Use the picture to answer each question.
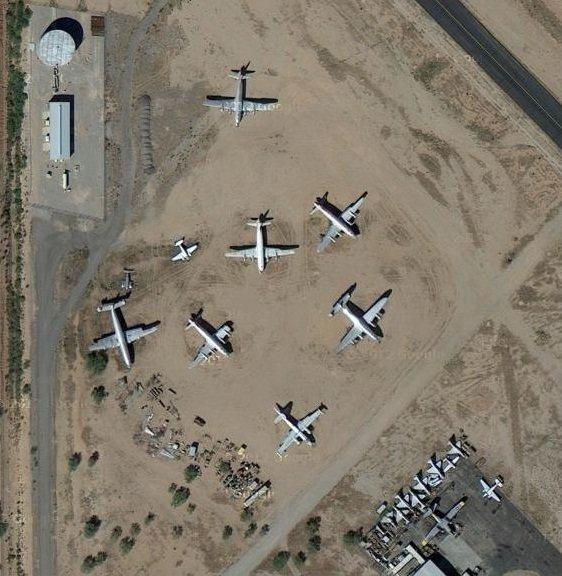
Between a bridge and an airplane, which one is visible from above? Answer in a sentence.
The one in the frame is an airplane.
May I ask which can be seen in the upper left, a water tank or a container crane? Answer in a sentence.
It is a water tank that can be seen in the upper left.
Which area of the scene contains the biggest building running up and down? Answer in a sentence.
The biggest building running up and down is in the top left part of the image.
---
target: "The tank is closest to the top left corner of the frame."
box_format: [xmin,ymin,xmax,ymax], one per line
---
[37,29,74,67]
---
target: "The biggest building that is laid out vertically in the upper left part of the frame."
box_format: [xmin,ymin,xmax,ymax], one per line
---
[48,102,69,159]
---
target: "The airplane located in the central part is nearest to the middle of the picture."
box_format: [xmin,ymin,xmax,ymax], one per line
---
[226,219,296,273]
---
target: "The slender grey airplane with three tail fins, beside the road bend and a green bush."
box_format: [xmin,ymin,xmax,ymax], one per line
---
[86,299,156,367]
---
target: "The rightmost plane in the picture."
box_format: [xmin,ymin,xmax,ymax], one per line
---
[480,479,503,502]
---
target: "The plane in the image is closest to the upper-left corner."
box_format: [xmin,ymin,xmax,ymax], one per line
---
[200,72,278,126]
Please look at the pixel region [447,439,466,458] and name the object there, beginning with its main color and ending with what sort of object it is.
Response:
white airplane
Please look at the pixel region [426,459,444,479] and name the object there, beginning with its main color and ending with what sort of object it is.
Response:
white airplane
